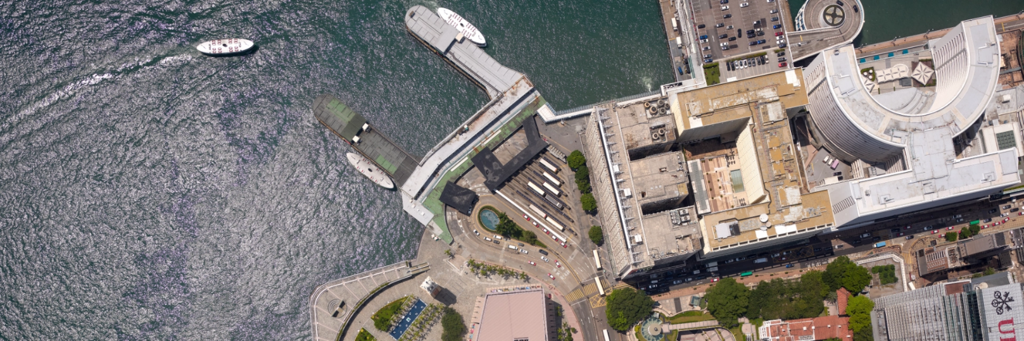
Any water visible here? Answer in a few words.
Yes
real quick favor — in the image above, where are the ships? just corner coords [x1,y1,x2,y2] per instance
[440,10,485,47]
[198,39,256,58]
[347,154,393,190]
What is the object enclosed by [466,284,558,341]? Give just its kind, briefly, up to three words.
building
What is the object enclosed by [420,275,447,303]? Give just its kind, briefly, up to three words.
building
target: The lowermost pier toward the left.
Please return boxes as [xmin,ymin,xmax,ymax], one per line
[313,94,421,192]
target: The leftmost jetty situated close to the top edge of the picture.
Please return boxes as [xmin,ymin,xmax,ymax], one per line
[402,5,528,103]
